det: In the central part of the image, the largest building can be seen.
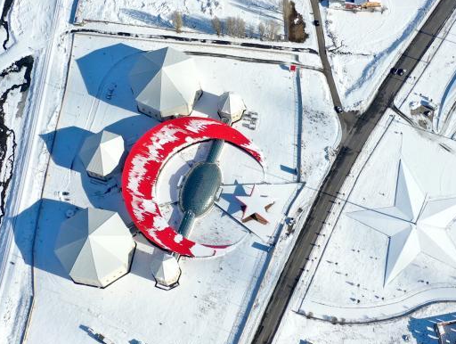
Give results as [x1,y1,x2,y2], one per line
[117,111,268,261]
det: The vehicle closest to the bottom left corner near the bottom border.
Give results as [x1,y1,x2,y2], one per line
[87,328,115,344]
